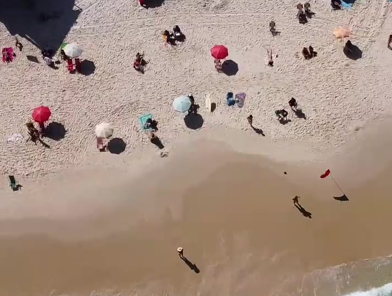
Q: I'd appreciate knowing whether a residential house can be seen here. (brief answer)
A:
No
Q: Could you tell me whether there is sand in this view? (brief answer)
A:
Yes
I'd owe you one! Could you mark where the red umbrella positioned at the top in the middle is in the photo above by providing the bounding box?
[210,47,229,63]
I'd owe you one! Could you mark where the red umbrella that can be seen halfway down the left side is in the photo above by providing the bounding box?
[32,109,53,125]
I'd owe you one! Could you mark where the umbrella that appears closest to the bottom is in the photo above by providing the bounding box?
[96,127,116,141]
